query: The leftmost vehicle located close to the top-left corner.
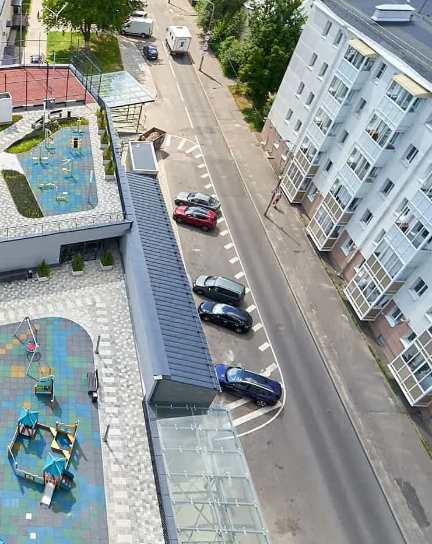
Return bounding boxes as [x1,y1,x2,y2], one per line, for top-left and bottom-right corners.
[28,51,46,65]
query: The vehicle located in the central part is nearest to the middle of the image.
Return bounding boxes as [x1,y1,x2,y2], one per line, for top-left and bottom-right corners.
[189,274,250,306]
